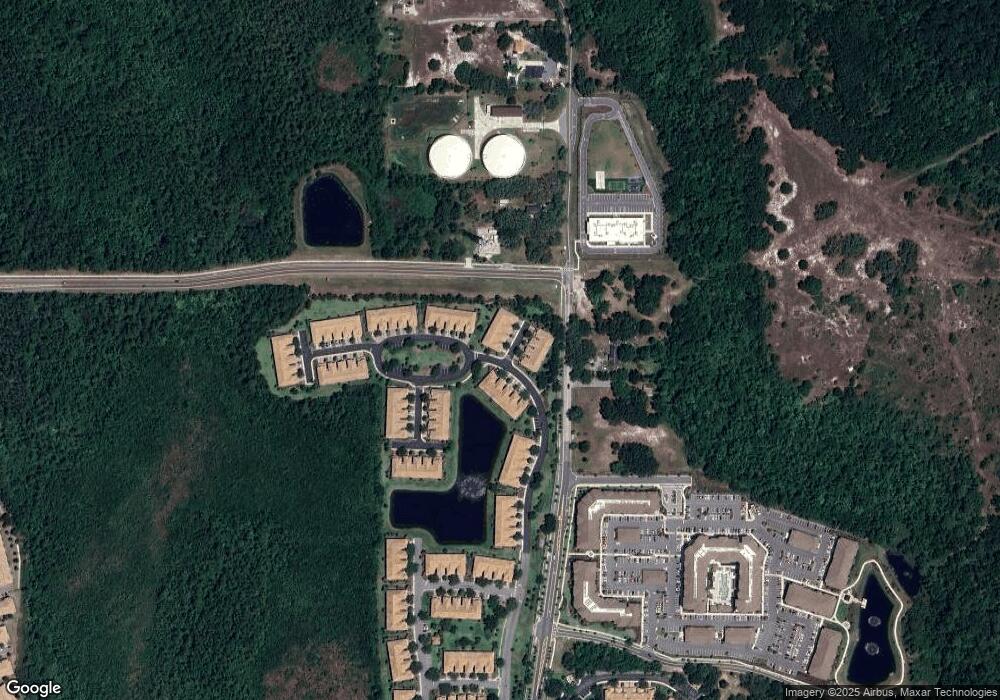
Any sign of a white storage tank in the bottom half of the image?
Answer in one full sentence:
No, in the bottom half of the image there is no white storage tank.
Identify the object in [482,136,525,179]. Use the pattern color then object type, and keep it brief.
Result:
white storage tank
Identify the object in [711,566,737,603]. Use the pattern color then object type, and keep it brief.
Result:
white swimming pool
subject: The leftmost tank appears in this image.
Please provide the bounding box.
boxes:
[429,136,473,179]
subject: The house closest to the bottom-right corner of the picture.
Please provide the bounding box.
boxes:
[808,628,843,679]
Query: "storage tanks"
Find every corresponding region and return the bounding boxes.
[482,136,525,179]
[429,136,473,179]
